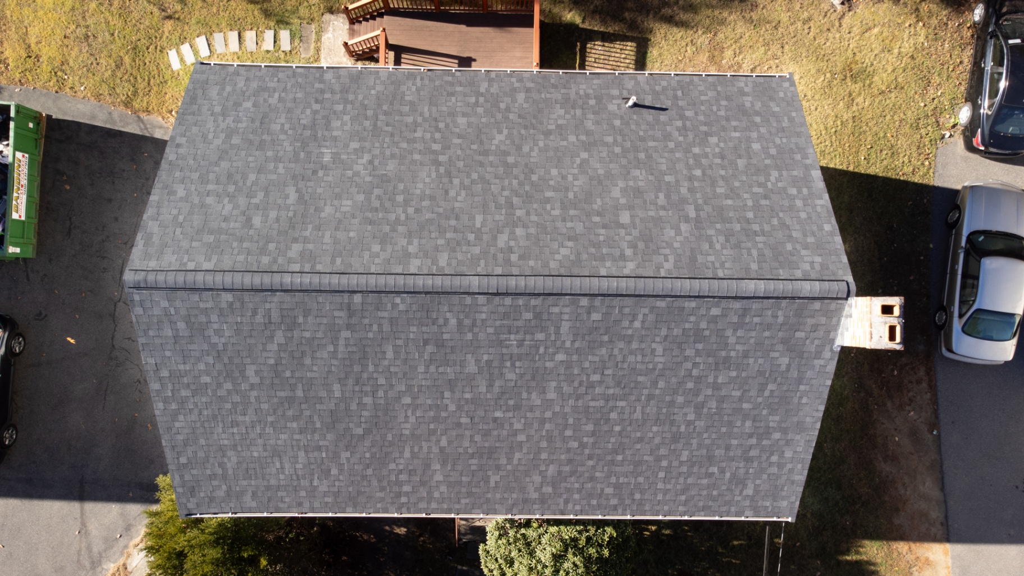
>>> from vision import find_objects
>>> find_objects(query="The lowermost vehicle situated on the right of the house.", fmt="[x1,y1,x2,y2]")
[930,177,1024,366]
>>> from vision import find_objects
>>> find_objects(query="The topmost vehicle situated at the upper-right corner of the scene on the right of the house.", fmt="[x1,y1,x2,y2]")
[954,0,1024,162]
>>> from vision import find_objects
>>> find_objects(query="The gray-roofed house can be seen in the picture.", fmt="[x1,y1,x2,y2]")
[123,60,905,522]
